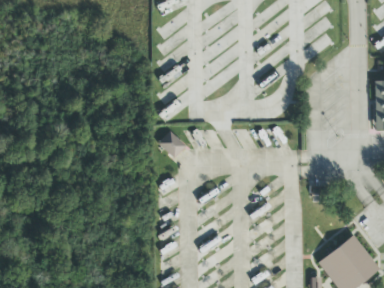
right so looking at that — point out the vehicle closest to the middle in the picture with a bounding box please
[192,130,207,148]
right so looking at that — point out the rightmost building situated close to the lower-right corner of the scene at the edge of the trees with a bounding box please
[320,236,378,288]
